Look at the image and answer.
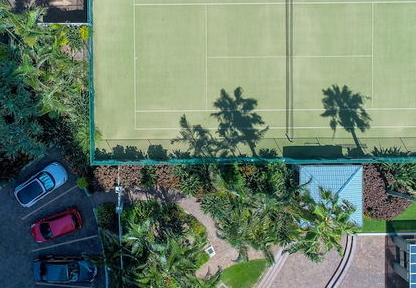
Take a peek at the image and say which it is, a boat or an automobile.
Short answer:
automobile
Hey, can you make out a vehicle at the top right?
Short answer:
No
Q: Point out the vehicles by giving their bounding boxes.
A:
[34,256,97,288]
[30,208,84,245]
[11,159,70,209]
